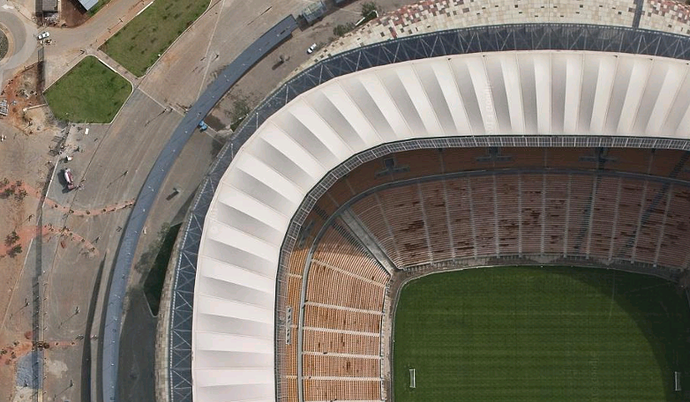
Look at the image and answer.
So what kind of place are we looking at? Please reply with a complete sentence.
What you see here is a sports ground.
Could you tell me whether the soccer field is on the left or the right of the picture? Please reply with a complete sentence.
The soccer field appears in the right half of the scene.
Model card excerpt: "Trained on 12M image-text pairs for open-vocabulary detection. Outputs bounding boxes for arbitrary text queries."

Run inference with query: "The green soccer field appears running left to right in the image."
[391,264,690,402]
